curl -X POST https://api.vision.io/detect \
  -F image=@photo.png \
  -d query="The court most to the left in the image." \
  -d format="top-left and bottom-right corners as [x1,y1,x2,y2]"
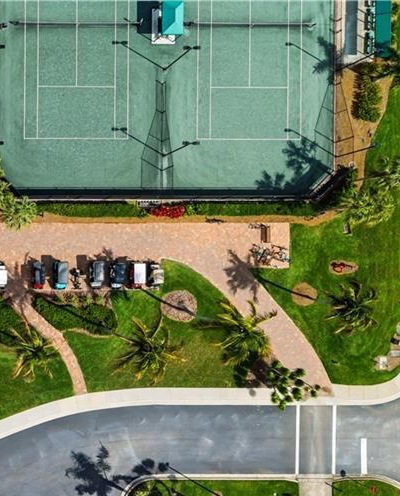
[0,0,163,195]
